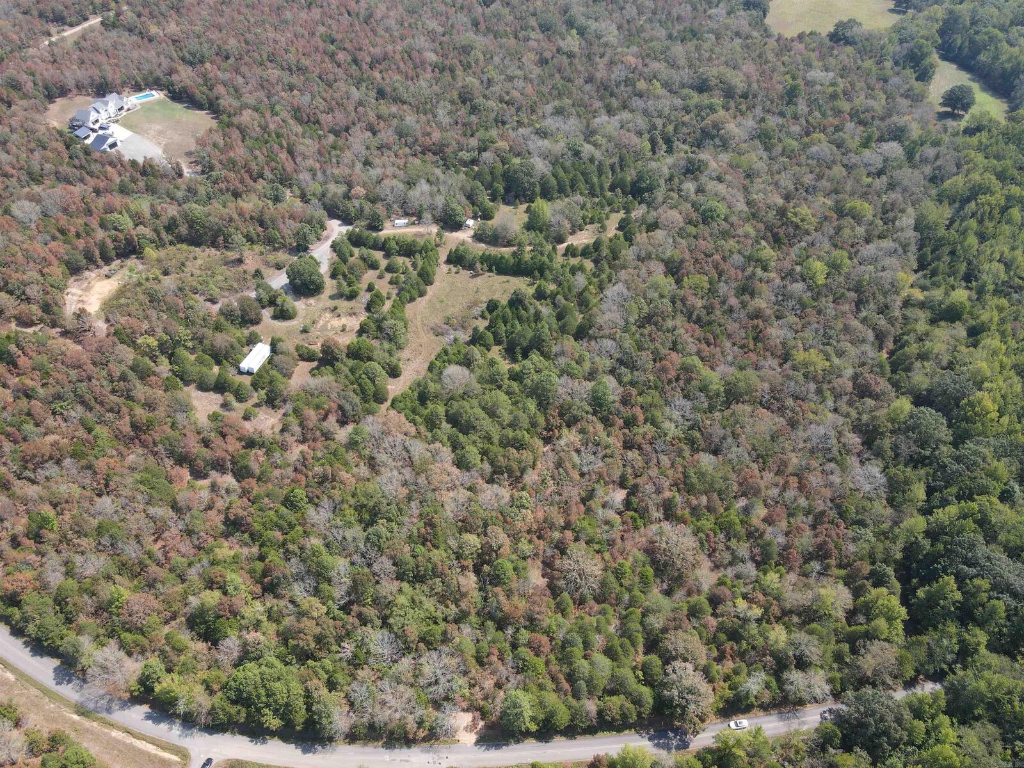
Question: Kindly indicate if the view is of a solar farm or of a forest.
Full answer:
What you see here is a forest.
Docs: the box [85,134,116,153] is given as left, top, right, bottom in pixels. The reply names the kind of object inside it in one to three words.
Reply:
building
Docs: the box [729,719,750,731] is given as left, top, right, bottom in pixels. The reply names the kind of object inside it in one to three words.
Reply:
vehicle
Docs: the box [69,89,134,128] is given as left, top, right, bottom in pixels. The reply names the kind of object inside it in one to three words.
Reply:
house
